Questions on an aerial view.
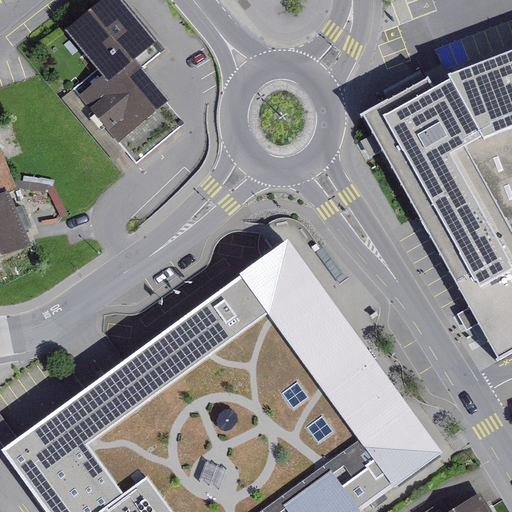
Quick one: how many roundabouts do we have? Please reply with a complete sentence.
The count comes to 1 roundabout.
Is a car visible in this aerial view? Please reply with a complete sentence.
Yes, this view includes a car.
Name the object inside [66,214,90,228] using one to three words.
vehicle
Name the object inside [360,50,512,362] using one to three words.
building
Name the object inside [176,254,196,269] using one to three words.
car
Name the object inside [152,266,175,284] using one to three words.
car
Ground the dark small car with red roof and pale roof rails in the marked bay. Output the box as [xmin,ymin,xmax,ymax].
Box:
[186,50,206,66]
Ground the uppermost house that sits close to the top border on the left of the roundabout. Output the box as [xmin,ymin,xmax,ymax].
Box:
[65,0,184,163]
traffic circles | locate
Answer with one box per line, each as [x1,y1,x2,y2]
[220,49,344,187]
